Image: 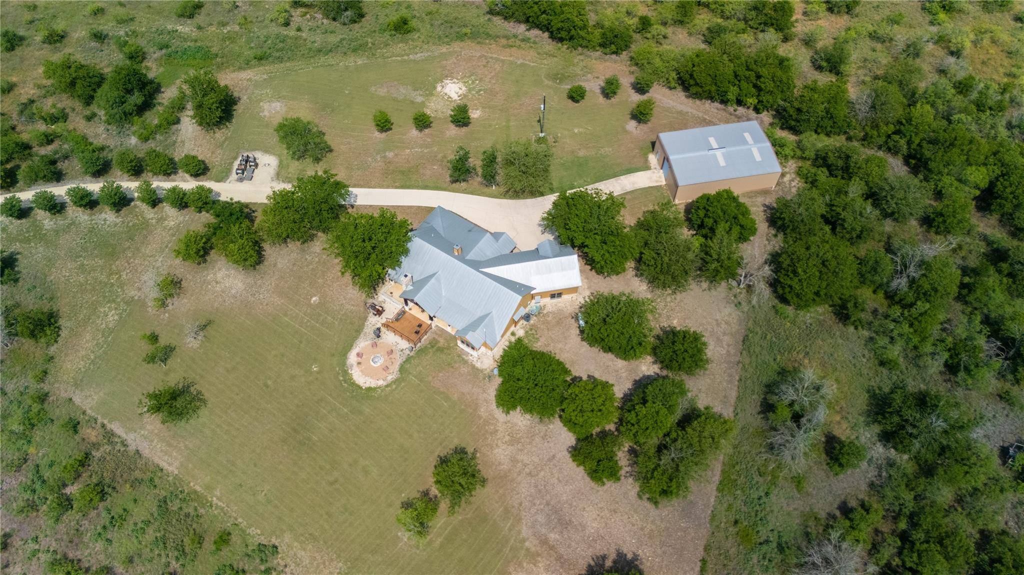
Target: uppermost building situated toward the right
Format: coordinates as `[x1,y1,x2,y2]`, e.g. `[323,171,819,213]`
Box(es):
[653,120,784,202]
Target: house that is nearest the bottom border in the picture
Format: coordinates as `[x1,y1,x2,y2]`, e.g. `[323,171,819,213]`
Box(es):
[385,205,582,357]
